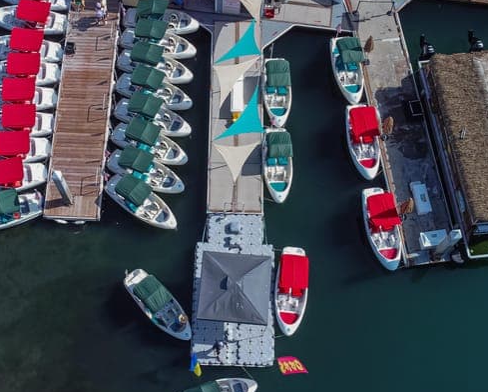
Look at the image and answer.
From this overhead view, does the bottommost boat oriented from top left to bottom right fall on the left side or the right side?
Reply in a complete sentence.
You can find the bottommost boat oriented from top left to bottom right on the left side of the picture.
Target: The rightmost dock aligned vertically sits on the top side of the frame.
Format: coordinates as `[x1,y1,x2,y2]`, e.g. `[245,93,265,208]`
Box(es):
[352,0,466,271]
